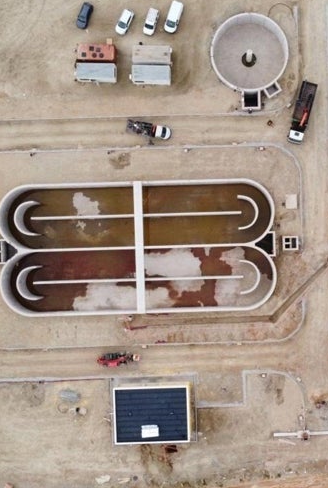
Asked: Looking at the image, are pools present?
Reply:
No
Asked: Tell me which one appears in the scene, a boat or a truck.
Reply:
truck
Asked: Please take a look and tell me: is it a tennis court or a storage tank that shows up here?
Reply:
storage tank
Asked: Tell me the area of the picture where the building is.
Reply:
bottom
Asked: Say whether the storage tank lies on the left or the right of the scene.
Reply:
right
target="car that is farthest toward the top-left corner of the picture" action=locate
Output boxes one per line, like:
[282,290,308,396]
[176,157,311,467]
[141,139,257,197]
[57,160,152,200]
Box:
[77,1,94,31]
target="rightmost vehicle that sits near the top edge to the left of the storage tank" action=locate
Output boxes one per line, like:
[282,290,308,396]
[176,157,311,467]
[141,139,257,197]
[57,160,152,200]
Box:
[164,0,184,35]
